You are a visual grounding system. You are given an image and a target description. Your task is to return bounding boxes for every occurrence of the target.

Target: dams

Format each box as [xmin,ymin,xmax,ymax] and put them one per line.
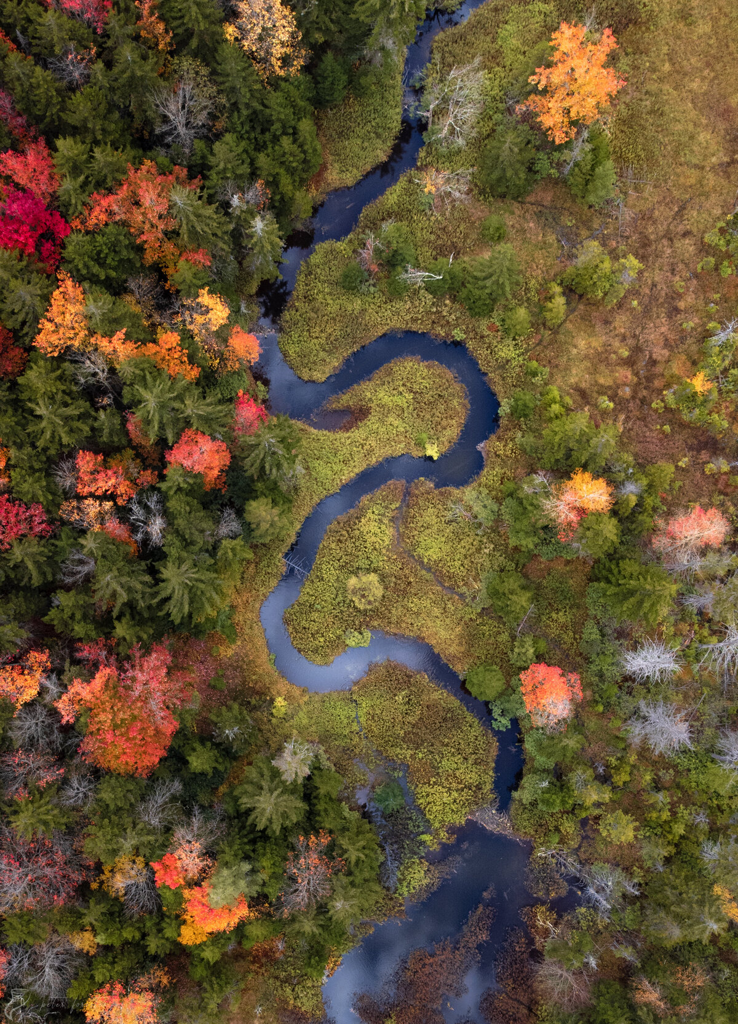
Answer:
[470,809,531,846]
